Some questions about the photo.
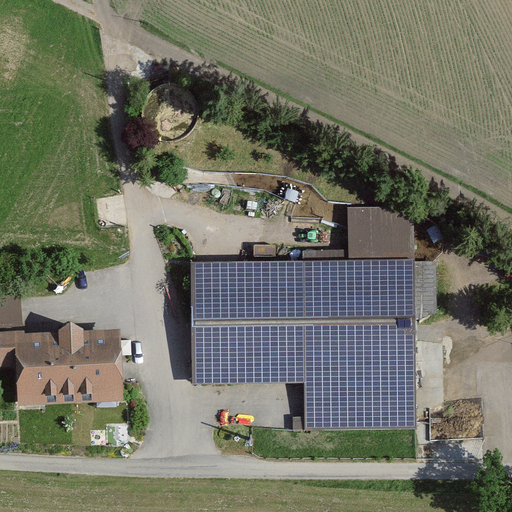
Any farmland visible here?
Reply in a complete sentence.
Yes, farmland can be seen from above here.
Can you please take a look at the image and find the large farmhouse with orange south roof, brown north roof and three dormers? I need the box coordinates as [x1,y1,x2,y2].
[0,322,124,410]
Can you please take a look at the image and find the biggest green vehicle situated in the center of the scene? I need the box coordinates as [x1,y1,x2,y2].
[294,230,327,242]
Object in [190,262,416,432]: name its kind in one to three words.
barn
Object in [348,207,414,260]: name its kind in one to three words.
shed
